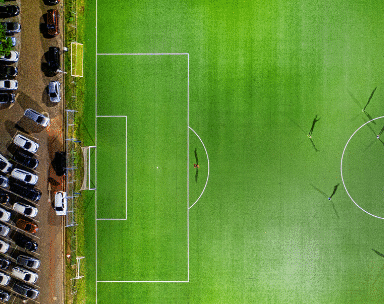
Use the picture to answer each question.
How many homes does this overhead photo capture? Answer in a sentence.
No homes are visible.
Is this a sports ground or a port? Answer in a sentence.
This image shows a sports ground.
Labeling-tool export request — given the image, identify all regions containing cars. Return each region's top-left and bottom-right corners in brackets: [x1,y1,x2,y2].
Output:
[0,175,9,189]
[44,47,60,75]
[0,78,20,91]
[16,253,43,270]
[11,181,42,202]
[0,152,14,173]
[24,108,49,127]
[0,50,21,63]
[0,209,12,224]
[45,9,60,37]
[0,257,12,271]
[53,190,66,215]
[13,202,39,219]
[48,80,62,105]
[52,152,66,177]
[15,216,41,235]
[0,226,12,240]
[11,133,41,153]
[12,149,41,170]
[12,232,41,254]
[12,280,41,299]
[10,265,40,284]
[0,272,12,288]
[0,65,20,77]
[9,166,40,186]
[0,4,22,17]
[0,37,18,47]
[0,241,12,256]
[0,193,10,206]
[0,91,17,105]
